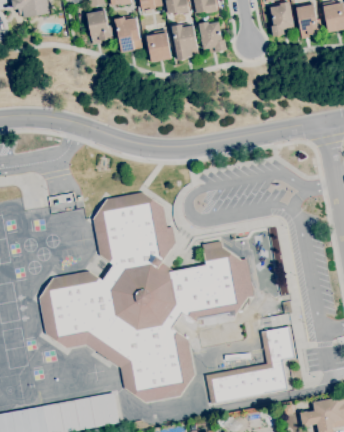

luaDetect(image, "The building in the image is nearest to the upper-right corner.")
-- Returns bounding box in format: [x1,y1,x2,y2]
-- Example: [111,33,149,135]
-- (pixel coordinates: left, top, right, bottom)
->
[322,2,344,34]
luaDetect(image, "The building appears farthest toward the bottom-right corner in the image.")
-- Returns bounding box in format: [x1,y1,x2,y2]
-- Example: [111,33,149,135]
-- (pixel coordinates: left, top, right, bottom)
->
[297,398,344,432]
